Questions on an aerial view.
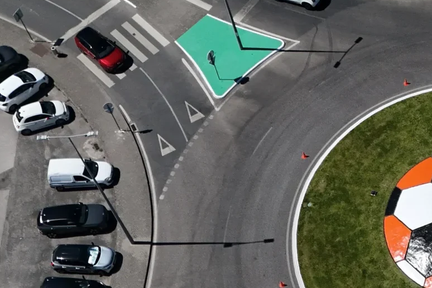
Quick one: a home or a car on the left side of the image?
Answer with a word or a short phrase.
car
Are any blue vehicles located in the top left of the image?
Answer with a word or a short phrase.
No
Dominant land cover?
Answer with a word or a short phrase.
paved ground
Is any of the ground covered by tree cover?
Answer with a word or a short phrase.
No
